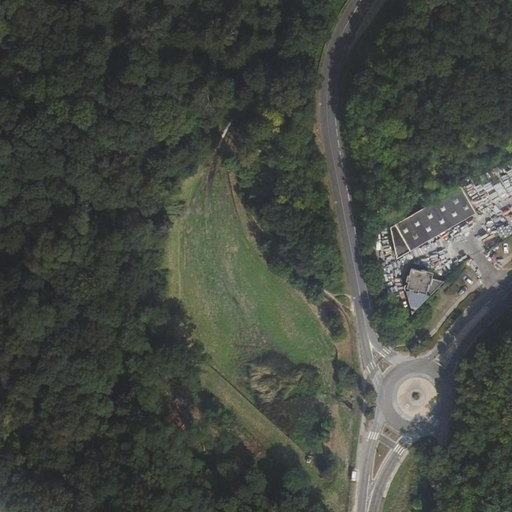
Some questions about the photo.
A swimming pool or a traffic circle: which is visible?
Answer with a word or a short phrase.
traffic circle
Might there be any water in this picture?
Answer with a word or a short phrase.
No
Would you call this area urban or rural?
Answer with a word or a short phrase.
rural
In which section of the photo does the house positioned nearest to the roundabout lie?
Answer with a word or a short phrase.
right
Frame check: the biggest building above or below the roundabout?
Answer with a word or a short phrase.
above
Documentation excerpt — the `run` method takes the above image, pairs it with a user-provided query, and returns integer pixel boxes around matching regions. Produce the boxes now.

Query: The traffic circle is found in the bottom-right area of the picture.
[378,358,454,434]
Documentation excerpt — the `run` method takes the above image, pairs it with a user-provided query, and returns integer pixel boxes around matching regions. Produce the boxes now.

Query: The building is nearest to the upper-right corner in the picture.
[390,186,476,258]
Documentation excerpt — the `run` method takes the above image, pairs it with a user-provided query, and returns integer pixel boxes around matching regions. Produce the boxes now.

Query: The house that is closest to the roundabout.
[406,269,444,314]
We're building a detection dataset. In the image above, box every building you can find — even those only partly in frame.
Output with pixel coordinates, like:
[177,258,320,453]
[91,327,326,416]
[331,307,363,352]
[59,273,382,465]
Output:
[390,186,476,258]
[406,269,444,314]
